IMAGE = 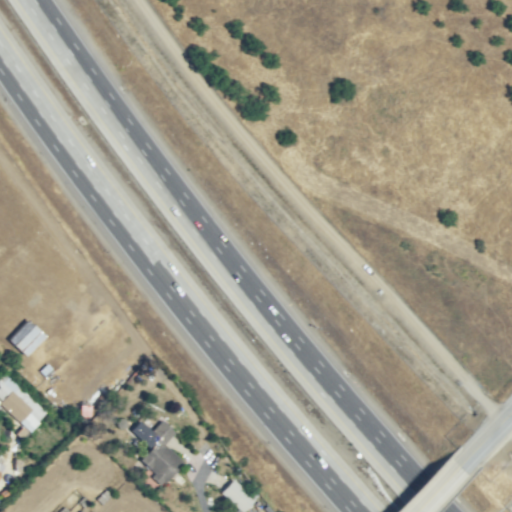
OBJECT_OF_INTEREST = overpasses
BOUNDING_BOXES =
[401,457,475,512]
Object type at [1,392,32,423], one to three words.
house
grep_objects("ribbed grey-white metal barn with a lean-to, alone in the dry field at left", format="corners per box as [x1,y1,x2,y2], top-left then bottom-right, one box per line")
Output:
[12,321,46,356]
